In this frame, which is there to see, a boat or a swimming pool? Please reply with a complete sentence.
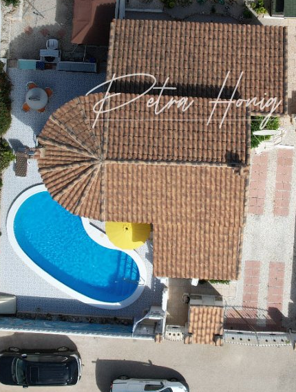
The one in the frame is a swimming pool.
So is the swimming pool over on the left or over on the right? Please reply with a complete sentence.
It is on the left.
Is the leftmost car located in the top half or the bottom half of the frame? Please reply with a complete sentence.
The leftmost car is in the bottom half of the image.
